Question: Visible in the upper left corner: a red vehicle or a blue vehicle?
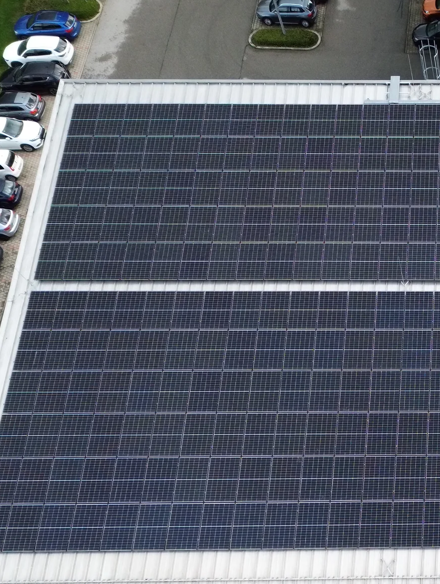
blue vehicle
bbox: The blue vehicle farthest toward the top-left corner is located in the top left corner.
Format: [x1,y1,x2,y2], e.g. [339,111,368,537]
[12,2,85,39]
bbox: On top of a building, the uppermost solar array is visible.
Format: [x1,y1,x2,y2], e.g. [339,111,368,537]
[34,103,440,281]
